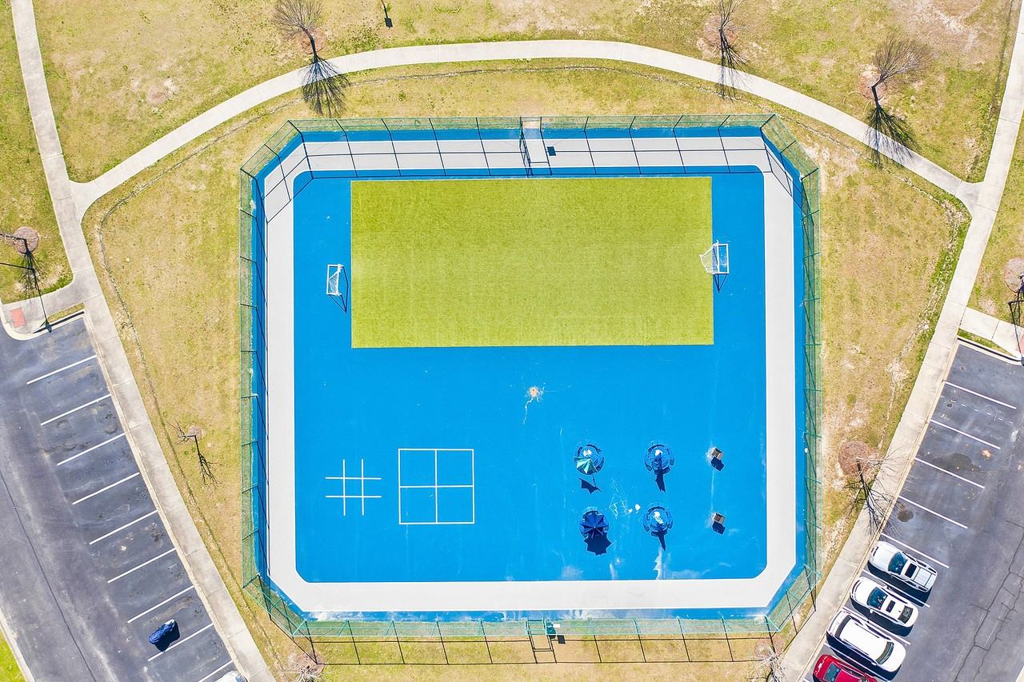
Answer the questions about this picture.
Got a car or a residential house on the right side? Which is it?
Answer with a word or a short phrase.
car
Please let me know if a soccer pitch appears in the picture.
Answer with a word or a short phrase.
Yes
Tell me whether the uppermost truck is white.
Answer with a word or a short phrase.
Yes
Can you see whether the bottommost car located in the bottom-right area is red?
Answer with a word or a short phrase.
Yes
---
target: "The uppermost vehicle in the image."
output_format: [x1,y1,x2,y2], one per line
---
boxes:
[865,540,938,593]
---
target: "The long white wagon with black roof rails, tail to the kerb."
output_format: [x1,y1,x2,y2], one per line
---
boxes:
[825,608,903,668]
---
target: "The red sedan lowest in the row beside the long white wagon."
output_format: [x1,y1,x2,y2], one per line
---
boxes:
[810,654,870,682]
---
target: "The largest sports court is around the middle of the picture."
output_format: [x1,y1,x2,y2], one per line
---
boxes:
[256,128,805,621]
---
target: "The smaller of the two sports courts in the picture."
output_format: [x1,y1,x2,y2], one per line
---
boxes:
[398,448,475,524]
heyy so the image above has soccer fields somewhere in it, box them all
[351,176,714,348]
